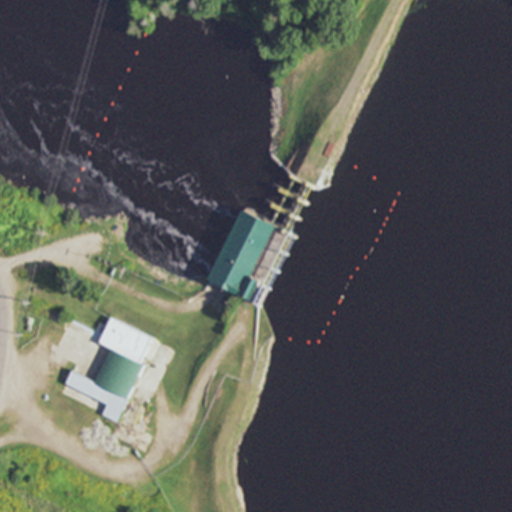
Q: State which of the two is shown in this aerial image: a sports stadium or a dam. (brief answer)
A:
dam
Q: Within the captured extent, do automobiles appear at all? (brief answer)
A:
No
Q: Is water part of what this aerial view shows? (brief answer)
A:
Yes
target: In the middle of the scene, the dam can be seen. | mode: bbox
[250,178,312,308]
